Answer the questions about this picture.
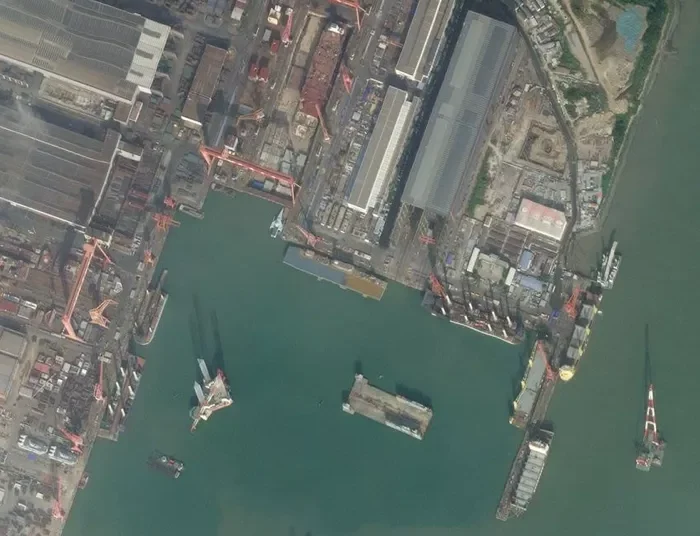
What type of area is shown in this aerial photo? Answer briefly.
port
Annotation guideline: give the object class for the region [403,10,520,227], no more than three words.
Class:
building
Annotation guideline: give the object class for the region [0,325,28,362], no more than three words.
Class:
shed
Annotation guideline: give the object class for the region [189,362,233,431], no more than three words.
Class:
vessel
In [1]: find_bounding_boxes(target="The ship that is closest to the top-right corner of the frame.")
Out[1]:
[596,241,623,291]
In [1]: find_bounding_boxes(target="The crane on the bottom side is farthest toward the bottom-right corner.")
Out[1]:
[635,384,663,472]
